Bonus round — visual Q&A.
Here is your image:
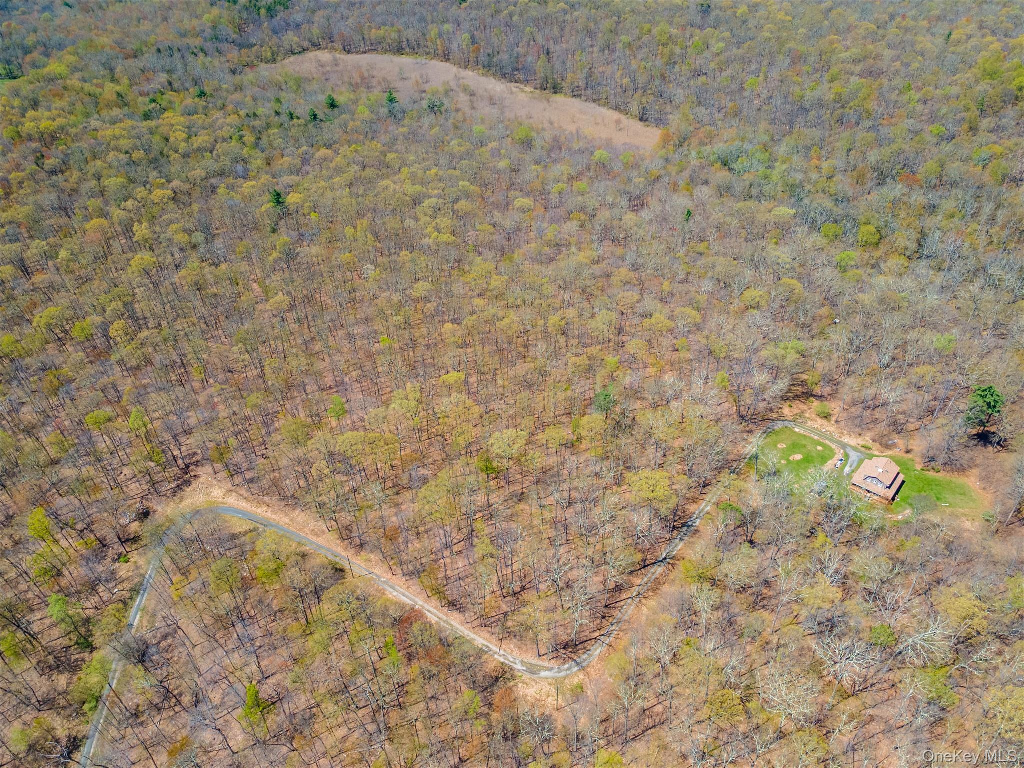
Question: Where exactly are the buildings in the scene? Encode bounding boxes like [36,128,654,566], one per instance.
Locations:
[848,456,904,509]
